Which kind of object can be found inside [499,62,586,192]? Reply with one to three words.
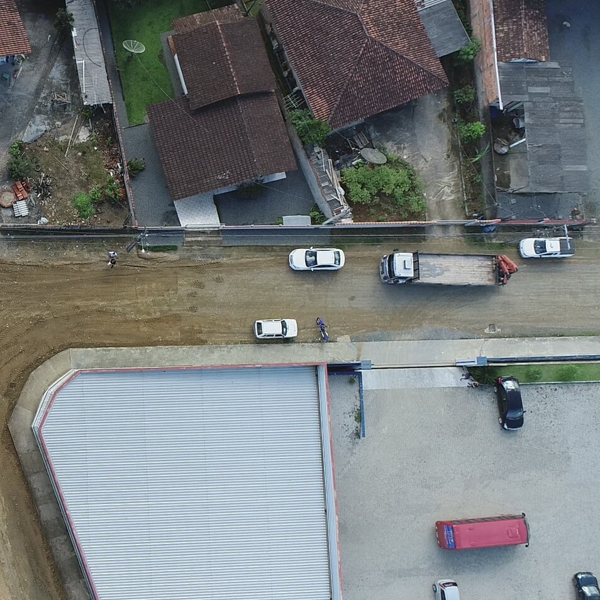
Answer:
shed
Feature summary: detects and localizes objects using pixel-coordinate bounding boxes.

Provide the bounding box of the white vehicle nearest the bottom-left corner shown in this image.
[252,316,297,342]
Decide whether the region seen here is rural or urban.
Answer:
urban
